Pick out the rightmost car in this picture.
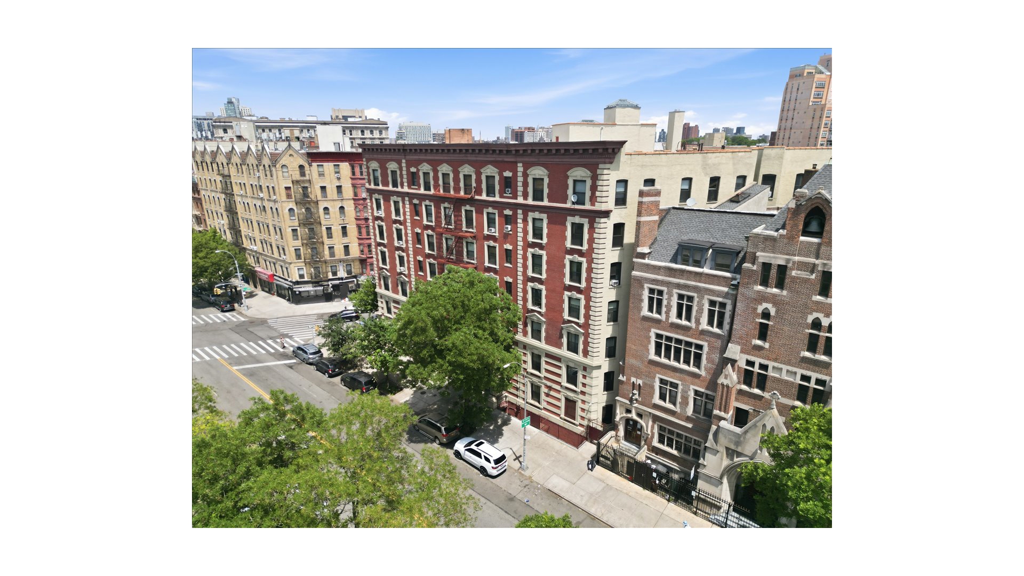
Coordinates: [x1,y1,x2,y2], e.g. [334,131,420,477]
[451,435,510,477]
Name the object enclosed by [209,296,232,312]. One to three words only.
car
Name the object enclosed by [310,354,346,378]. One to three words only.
car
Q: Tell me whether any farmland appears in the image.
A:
No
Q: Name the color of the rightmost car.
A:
white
